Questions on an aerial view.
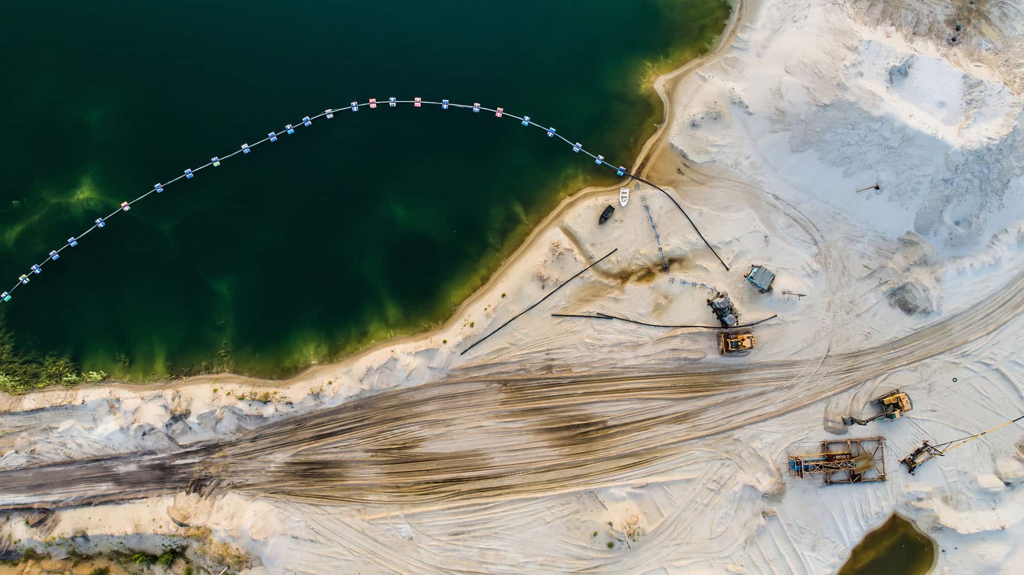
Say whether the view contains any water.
Yes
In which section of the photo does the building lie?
right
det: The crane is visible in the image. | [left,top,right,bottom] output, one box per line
[897,416,1024,476]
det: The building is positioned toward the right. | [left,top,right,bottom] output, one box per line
[746,267,773,291]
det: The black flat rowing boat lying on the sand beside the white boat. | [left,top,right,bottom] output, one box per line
[600,204,616,223]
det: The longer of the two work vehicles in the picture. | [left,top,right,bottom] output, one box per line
[843,390,909,422]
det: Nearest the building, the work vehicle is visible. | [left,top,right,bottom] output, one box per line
[714,333,753,356]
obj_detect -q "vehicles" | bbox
[714,333,753,356]
[843,390,909,422]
